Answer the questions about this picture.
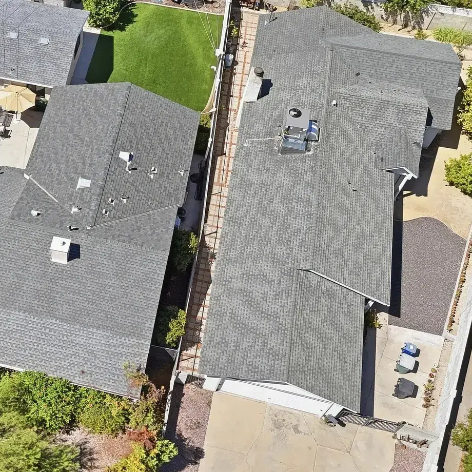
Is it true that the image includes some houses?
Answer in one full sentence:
Yes, you can see a house in this photo.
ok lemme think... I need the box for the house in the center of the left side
[0,82,200,403]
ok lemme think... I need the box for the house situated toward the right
[180,6,463,419]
